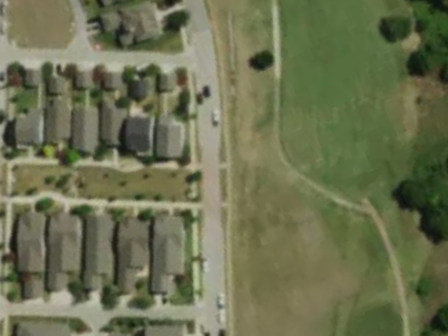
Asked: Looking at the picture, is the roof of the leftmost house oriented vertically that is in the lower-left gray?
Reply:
Yes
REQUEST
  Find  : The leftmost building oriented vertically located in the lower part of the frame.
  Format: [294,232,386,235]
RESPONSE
[19,212,46,299]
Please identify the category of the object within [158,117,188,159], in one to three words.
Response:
house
